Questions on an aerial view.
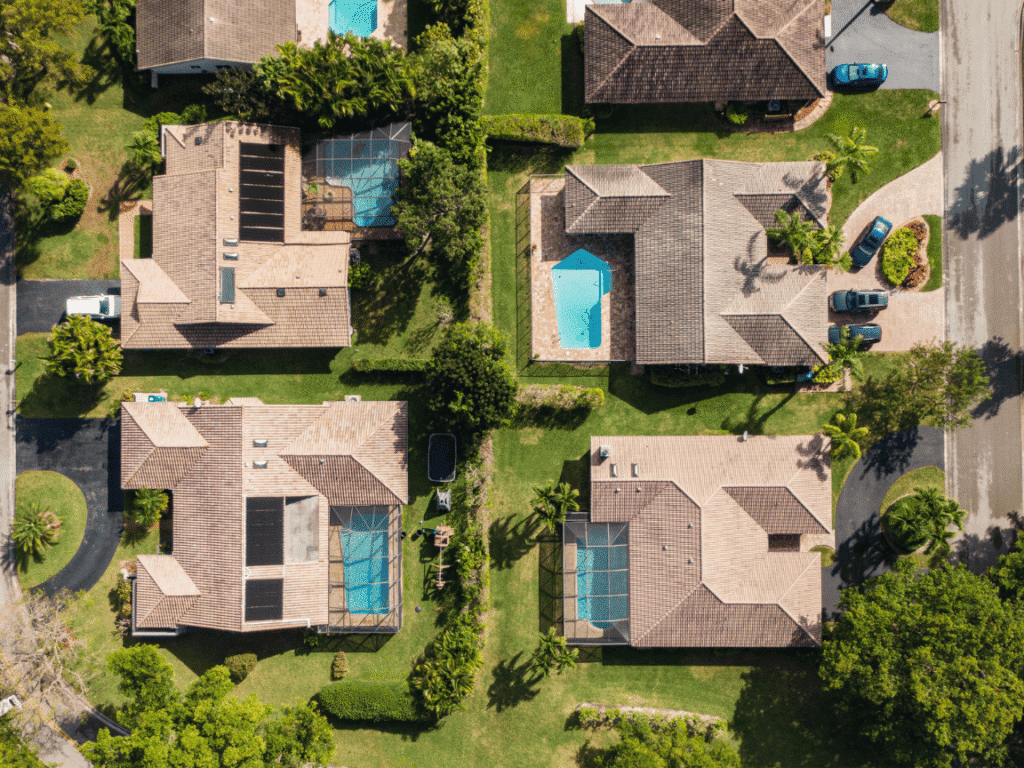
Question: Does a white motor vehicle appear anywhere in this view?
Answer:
Yes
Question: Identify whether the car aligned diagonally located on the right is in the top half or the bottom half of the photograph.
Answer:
top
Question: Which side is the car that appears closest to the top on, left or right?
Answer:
right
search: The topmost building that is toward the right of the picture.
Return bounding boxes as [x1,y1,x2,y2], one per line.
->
[584,0,832,115]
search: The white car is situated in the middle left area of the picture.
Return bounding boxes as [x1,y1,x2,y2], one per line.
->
[65,291,121,320]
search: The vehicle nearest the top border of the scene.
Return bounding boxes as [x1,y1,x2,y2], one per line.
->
[828,60,888,90]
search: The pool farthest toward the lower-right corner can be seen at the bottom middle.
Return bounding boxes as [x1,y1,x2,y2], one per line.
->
[574,523,629,632]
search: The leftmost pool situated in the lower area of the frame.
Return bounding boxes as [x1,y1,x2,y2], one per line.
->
[338,510,391,617]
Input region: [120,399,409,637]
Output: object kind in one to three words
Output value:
house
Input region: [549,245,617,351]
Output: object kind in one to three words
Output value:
swimming pool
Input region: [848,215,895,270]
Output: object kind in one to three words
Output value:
car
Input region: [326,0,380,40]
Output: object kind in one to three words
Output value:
swimming pool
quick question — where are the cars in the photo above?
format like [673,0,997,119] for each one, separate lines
[828,60,888,90]
[828,287,890,315]
[65,291,121,320]
[828,321,882,346]
[848,215,895,270]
